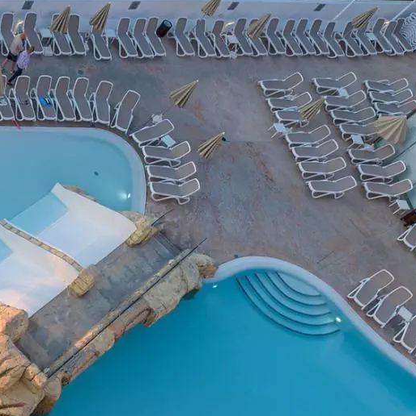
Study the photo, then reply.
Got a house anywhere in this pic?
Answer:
No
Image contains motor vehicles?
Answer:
No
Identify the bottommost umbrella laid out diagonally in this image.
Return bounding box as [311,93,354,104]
[192,131,225,162]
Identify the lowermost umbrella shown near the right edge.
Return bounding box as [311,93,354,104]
[359,109,410,149]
